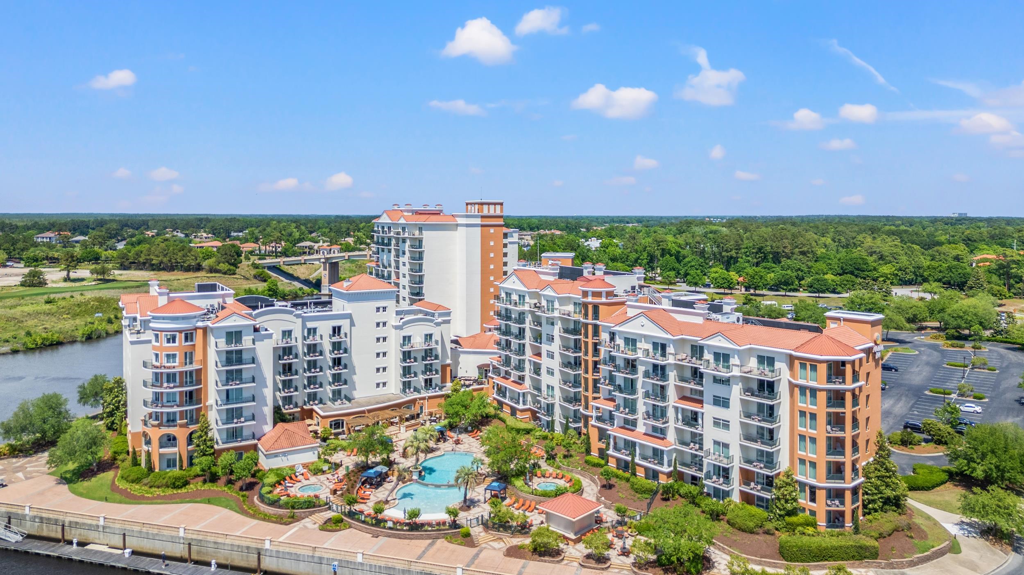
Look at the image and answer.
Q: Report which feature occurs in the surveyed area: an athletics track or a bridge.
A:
bridge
